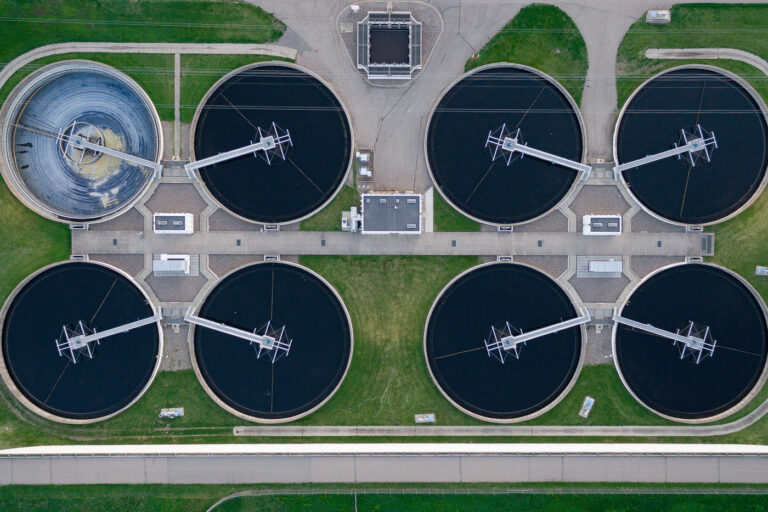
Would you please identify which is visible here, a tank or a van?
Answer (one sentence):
Looking from above, you can make out a tank.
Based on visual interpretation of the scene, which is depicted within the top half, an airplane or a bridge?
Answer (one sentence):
What appears within the top half is a bridge.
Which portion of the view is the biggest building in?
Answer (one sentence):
The biggest building sits in the center section of the image.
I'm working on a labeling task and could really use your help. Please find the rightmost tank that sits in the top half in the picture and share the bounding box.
[611,64,768,226]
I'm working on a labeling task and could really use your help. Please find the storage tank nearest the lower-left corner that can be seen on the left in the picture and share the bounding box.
[0,260,166,424]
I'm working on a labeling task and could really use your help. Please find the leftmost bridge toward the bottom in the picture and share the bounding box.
[70,303,162,350]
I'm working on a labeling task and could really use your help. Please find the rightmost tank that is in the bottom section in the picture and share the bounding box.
[610,262,768,424]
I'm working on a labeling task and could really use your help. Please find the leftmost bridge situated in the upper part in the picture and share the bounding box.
[70,133,162,180]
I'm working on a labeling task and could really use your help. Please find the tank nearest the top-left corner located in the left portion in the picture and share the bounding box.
[0,59,166,223]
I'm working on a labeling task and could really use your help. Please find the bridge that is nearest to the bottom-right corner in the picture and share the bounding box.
[614,304,704,352]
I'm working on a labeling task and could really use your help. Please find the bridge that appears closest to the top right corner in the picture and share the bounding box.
[615,136,706,184]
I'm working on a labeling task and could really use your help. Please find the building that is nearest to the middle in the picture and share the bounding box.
[361,193,423,235]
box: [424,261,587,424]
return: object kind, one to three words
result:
storage tank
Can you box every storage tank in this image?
[0,260,166,424]
[0,59,166,223]
[610,262,768,424]
[424,261,587,424]
[190,61,355,224]
[424,63,588,225]
[189,260,353,424]
[611,64,768,226]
